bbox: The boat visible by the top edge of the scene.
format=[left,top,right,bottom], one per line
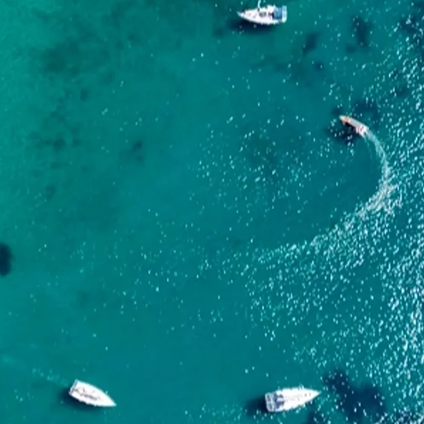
[238,0,290,22]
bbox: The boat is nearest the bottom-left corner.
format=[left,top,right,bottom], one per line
[66,382,117,408]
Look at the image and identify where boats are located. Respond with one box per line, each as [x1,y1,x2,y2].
[340,116,369,138]
[259,385,320,412]
[66,382,117,408]
[238,0,290,22]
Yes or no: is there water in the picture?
Yes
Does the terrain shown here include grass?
No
